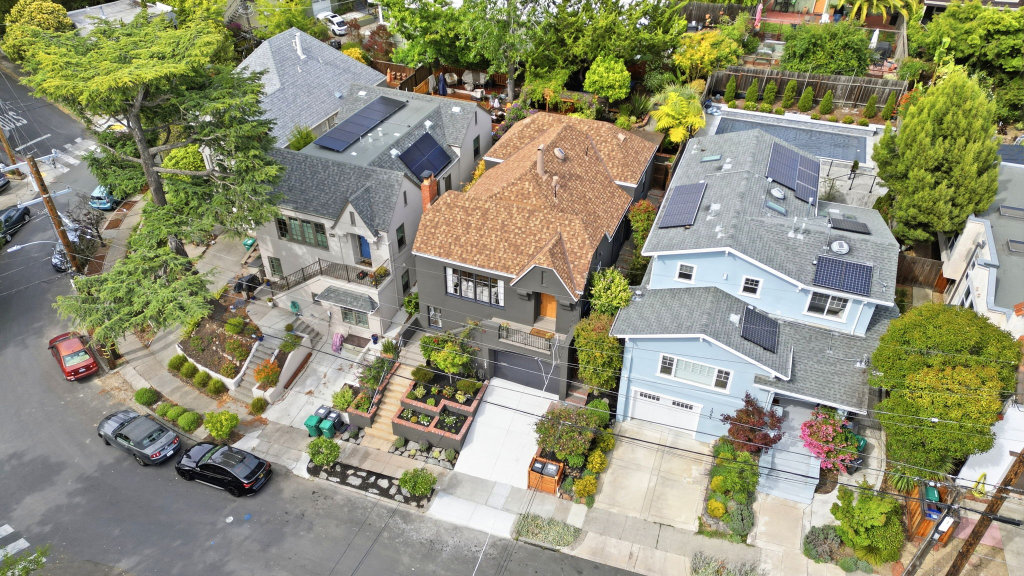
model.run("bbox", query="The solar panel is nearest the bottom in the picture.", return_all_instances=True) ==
[741,305,781,352]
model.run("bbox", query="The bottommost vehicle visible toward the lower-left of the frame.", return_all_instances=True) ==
[172,441,271,498]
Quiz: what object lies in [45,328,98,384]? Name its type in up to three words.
car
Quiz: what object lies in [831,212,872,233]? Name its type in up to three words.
solar panel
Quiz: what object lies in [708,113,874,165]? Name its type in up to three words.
swimming pool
